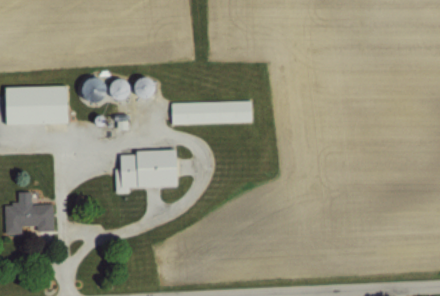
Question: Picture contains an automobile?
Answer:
No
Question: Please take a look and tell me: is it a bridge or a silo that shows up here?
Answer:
silo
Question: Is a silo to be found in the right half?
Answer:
No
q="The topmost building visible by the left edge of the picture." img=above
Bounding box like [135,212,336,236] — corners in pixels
[5,86,69,126]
